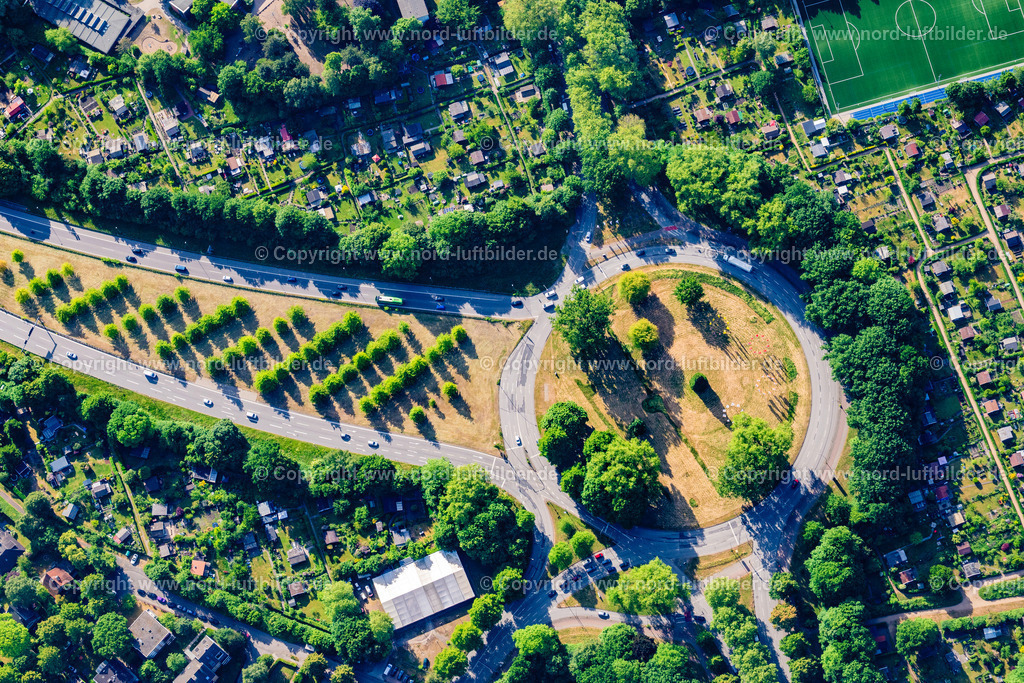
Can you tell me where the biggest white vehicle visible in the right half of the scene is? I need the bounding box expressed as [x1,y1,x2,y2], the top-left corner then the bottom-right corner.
[723,255,754,272]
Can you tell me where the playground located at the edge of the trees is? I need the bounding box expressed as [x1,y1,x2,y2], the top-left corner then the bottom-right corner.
[131,10,182,56]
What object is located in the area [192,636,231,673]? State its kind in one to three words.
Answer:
house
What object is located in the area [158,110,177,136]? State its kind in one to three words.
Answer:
shed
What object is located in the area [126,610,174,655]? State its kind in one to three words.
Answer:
building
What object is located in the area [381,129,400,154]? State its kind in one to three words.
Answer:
shed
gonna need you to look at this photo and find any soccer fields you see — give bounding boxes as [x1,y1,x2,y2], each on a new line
[800,0,1024,114]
